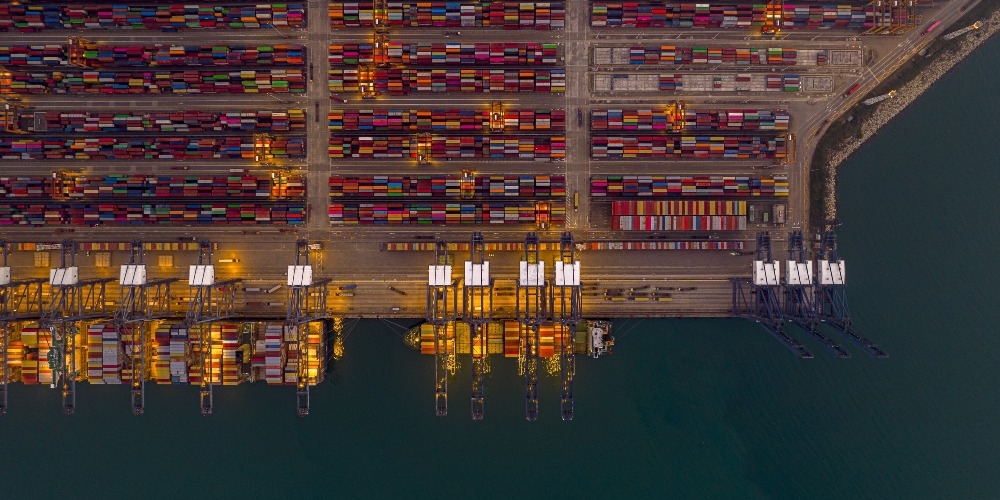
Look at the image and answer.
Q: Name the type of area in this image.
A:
port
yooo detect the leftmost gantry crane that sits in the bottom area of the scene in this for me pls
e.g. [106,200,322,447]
[0,242,59,413]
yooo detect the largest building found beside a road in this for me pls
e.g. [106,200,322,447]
[771,204,787,226]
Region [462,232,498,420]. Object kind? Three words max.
container crane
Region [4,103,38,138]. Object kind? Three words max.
container crane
